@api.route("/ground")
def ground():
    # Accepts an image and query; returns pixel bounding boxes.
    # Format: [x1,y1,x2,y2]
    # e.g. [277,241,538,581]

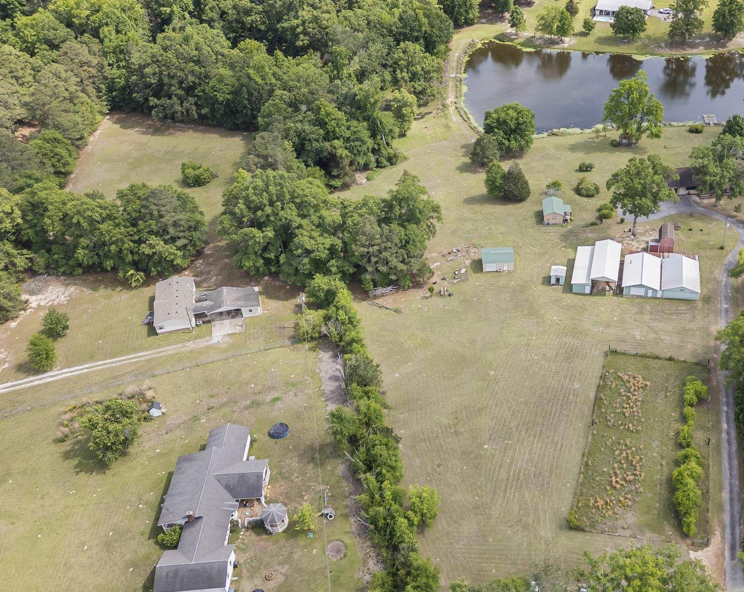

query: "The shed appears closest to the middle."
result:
[482,247,514,273]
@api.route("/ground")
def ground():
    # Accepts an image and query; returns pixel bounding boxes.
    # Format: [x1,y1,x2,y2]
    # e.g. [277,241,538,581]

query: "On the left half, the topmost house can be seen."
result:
[137,277,258,336]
